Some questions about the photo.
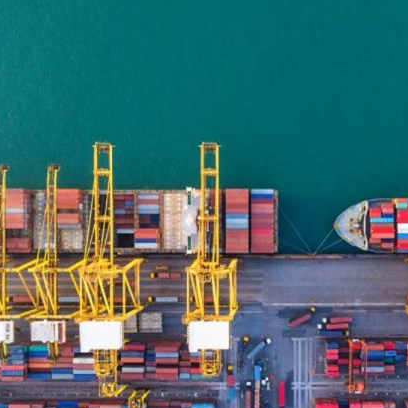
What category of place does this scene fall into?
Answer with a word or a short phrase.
port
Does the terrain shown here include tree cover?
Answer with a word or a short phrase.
No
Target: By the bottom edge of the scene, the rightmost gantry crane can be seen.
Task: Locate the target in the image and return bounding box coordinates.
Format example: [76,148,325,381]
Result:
[341,334,368,397]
